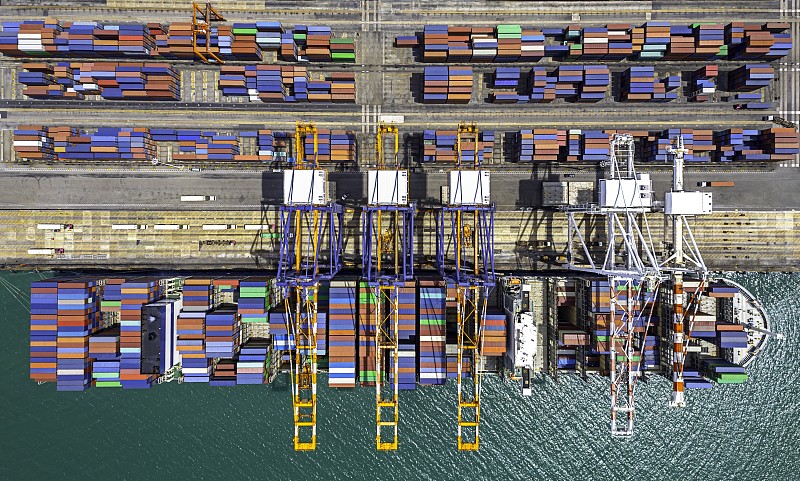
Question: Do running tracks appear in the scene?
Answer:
No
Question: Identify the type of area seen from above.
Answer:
port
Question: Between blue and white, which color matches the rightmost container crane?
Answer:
white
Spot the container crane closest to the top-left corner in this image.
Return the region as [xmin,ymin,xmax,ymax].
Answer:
[192,2,224,64]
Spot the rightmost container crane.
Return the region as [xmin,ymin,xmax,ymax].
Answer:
[620,136,712,407]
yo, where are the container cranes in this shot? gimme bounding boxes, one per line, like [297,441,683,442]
[192,2,224,64]
[273,121,349,452]
[355,123,419,452]
[430,121,496,452]
[620,136,712,407]
[559,134,662,436]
